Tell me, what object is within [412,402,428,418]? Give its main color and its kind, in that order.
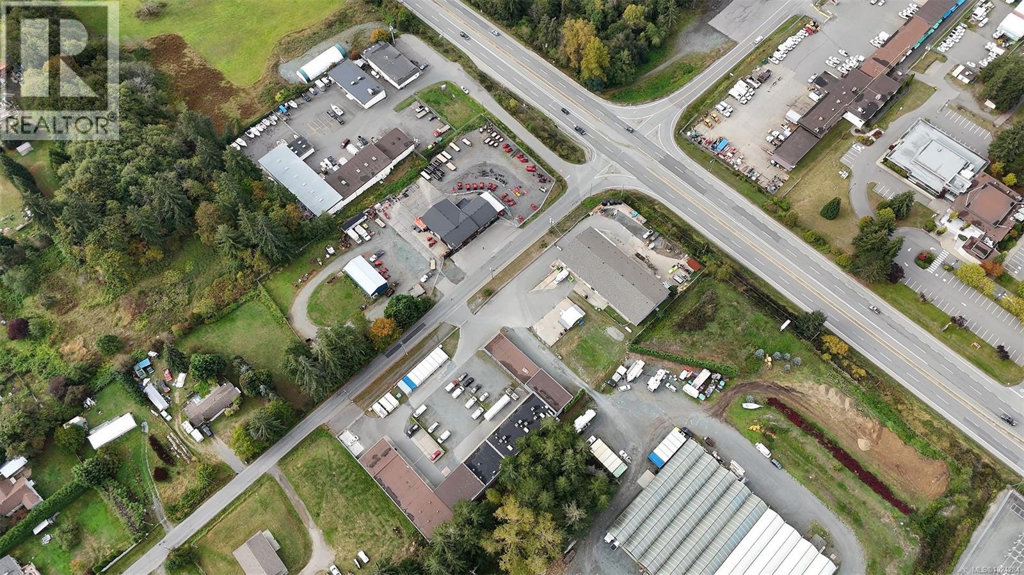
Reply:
white vehicle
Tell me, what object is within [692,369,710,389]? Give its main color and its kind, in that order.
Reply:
white camper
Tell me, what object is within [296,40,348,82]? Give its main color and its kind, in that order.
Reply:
white tent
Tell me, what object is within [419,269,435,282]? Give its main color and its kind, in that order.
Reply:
white vehicle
